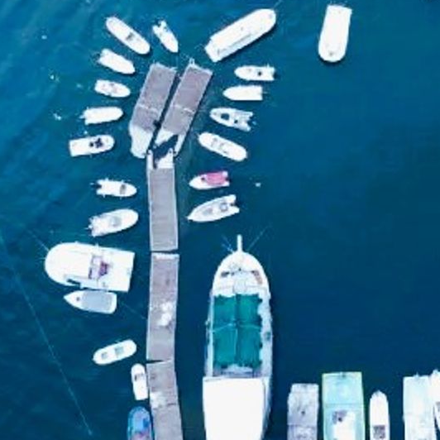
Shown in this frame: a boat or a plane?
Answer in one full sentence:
Visible in the photo is a boat.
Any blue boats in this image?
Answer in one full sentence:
Yes, this view includes a blue boat.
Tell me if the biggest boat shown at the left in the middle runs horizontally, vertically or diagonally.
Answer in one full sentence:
The biggest boat shown at the left in the middle is laid out horizontally.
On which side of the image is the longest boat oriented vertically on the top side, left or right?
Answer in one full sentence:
You can find the longest boat oriented vertically on the top side on the right side of the picture.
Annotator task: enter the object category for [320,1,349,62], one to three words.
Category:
boat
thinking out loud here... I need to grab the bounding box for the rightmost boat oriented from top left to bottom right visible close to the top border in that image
[154,19,177,52]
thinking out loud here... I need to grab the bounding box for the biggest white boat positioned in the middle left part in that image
[42,241,139,292]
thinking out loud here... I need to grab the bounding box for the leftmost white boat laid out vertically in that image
[131,365,148,400]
